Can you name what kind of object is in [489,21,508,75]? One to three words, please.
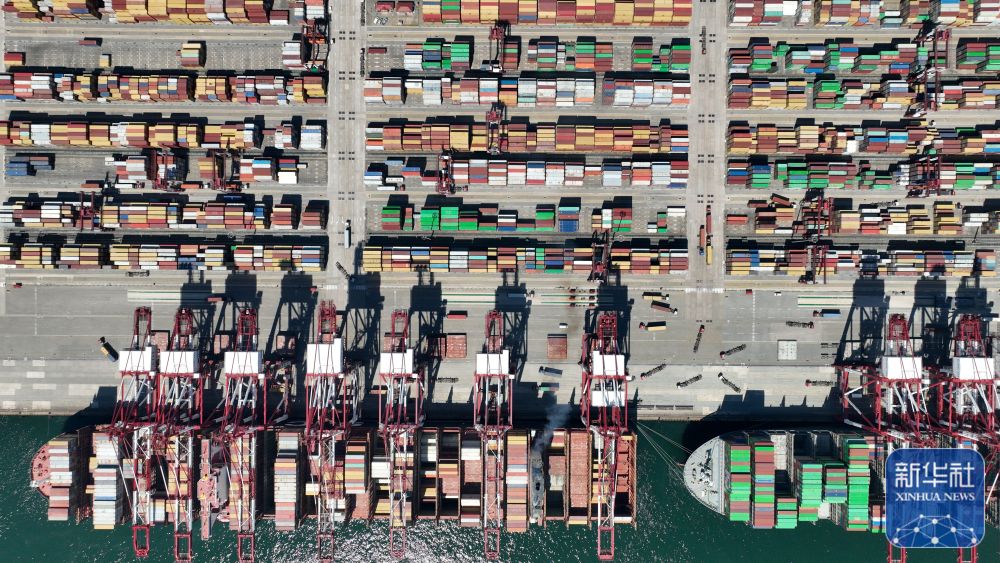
container crane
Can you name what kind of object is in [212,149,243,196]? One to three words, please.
container crane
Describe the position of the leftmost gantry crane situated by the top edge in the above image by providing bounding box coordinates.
[304,20,329,73]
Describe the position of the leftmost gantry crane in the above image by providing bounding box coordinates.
[79,185,118,230]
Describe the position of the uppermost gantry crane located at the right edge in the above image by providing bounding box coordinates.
[911,25,951,78]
